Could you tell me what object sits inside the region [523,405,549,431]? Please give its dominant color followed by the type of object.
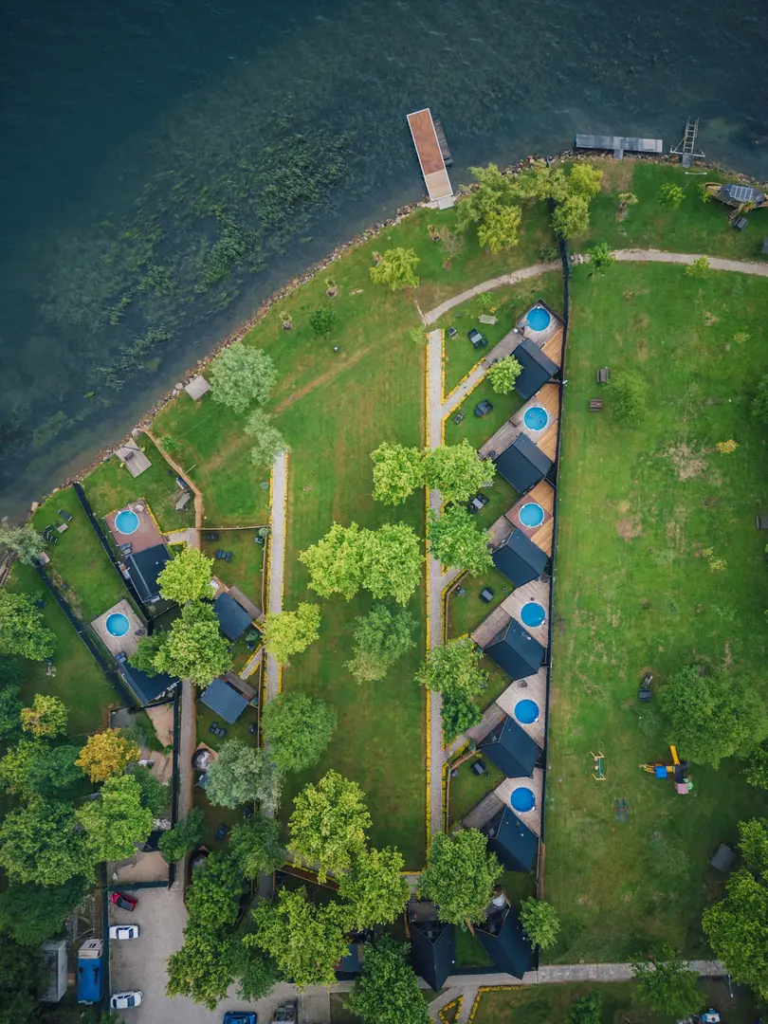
blue swimming pool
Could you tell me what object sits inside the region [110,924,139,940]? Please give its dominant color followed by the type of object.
white car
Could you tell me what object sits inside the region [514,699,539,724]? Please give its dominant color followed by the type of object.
blue swimming pool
